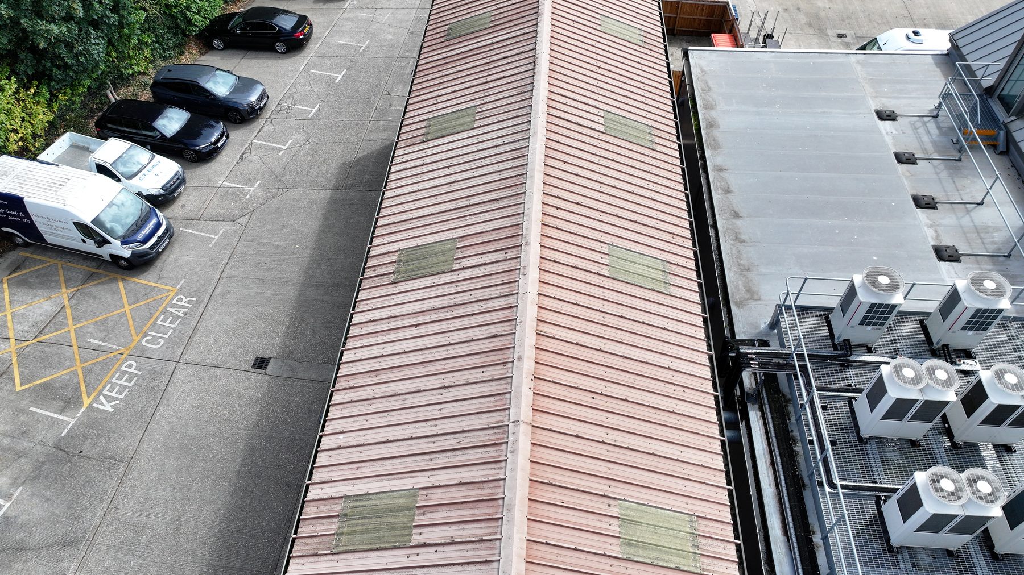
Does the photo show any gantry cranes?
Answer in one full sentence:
No, there is no gantry crane in the image.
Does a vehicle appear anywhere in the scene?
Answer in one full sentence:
Yes, there's a vehicle down there.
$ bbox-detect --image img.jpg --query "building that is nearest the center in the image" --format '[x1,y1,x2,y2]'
[281,0,748,575]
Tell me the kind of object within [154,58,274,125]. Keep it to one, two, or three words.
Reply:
car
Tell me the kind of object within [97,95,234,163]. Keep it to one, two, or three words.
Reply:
car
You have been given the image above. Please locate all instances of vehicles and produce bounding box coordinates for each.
[833,26,952,54]
[35,134,191,208]
[154,58,274,125]
[0,152,179,271]
[97,95,234,163]
[198,5,313,54]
